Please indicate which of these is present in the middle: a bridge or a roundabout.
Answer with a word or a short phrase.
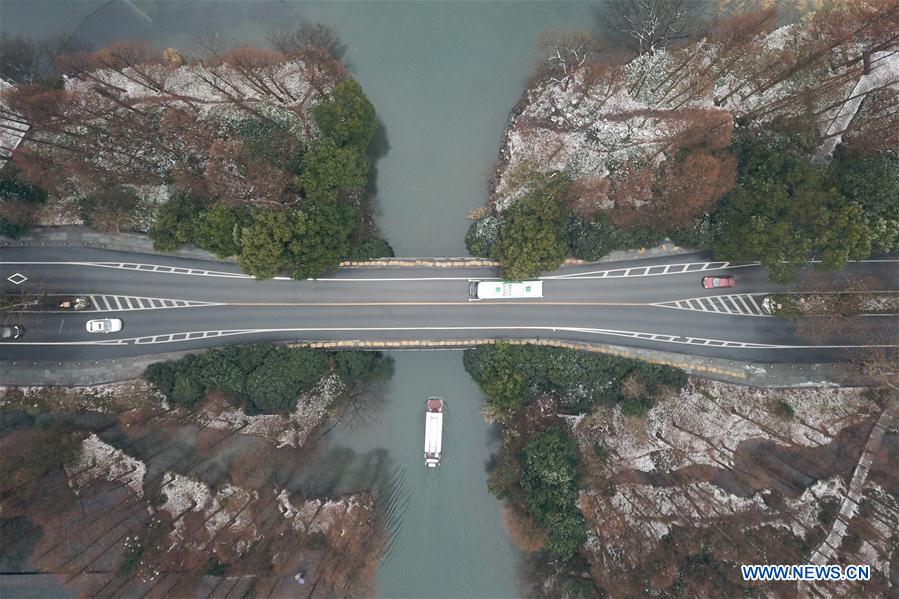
bridge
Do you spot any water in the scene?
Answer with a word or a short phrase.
Yes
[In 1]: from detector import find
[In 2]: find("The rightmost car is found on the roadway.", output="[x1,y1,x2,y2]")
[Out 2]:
[703,275,738,290]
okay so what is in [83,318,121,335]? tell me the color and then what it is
white car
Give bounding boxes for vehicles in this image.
[83,318,121,335]
[703,275,738,290]
[471,281,546,304]
[0,324,20,341]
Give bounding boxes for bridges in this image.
[287,255,746,379]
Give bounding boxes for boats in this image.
[424,400,442,468]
